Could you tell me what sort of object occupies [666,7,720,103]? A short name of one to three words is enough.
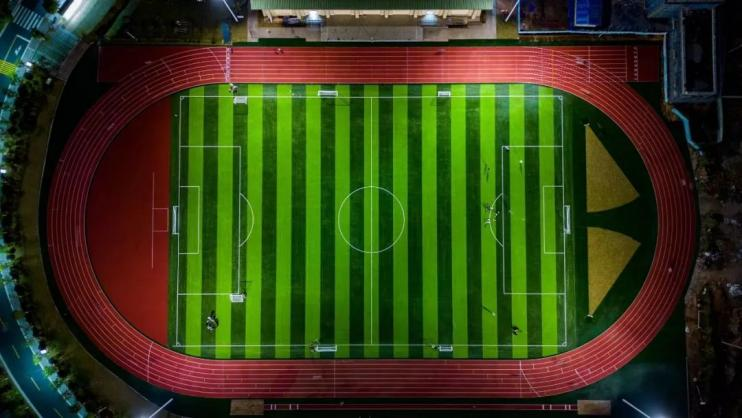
building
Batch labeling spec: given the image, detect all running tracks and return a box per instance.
[47,46,695,398]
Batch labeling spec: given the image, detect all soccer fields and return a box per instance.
[167,85,575,358]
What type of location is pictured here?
sports ground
